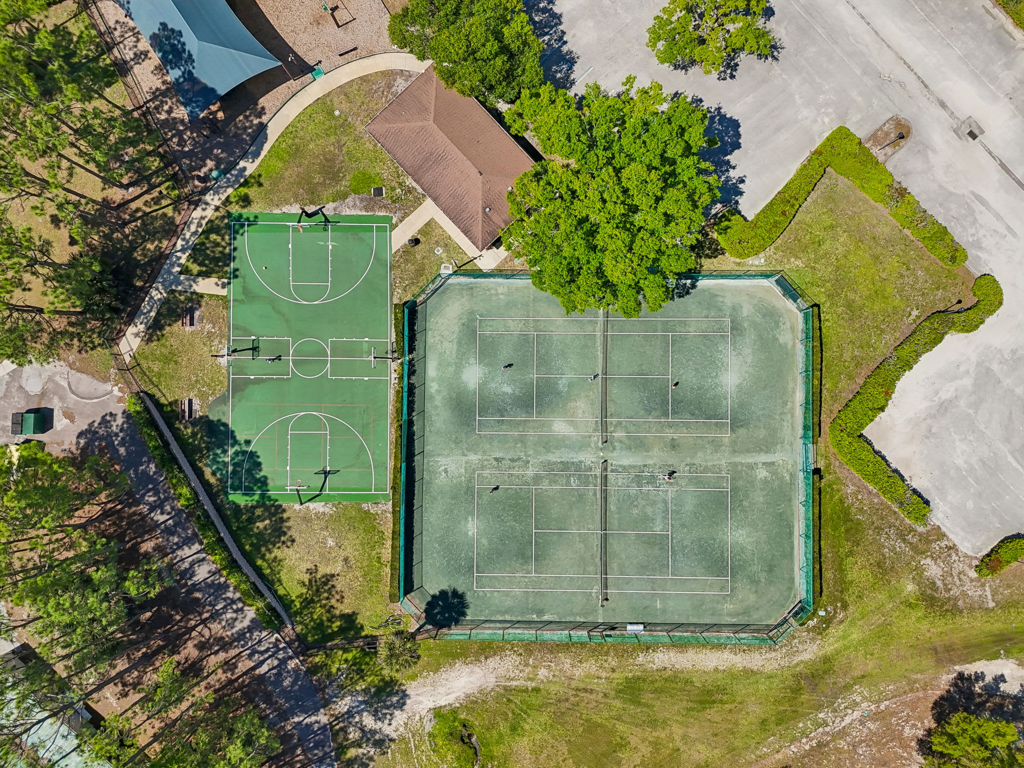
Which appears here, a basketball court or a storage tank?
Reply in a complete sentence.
The image shows a basketball court.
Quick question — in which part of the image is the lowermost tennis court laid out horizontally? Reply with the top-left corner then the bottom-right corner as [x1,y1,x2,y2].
[404,454,801,634]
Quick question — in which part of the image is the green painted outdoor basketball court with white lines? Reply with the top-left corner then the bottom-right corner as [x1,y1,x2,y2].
[208,212,392,502]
